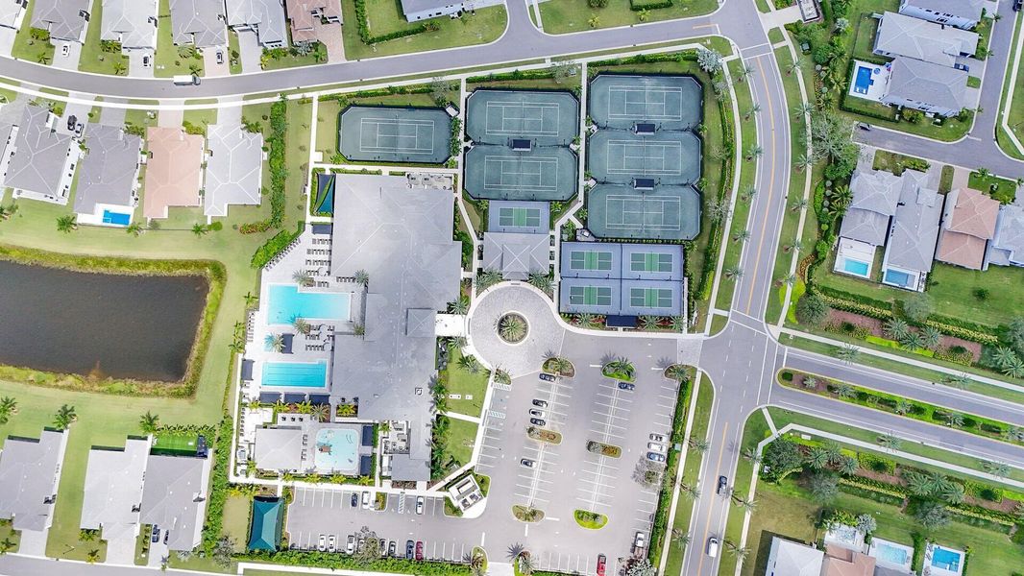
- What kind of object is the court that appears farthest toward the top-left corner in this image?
tennis court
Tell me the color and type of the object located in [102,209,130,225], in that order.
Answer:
blue swimming pool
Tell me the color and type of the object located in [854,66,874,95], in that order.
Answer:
blue swimming pool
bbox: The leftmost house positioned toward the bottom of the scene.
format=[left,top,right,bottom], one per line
[0,428,70,530]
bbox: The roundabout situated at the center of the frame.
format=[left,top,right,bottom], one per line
[471,288,566,379]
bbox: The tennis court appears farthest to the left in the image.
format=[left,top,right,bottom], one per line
[338,106,451,164]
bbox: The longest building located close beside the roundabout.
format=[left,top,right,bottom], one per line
[332,173,461,482]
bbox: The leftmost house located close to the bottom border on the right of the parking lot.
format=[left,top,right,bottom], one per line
[760,533,824,576]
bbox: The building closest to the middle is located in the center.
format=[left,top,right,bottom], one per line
[482,232,551,280]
